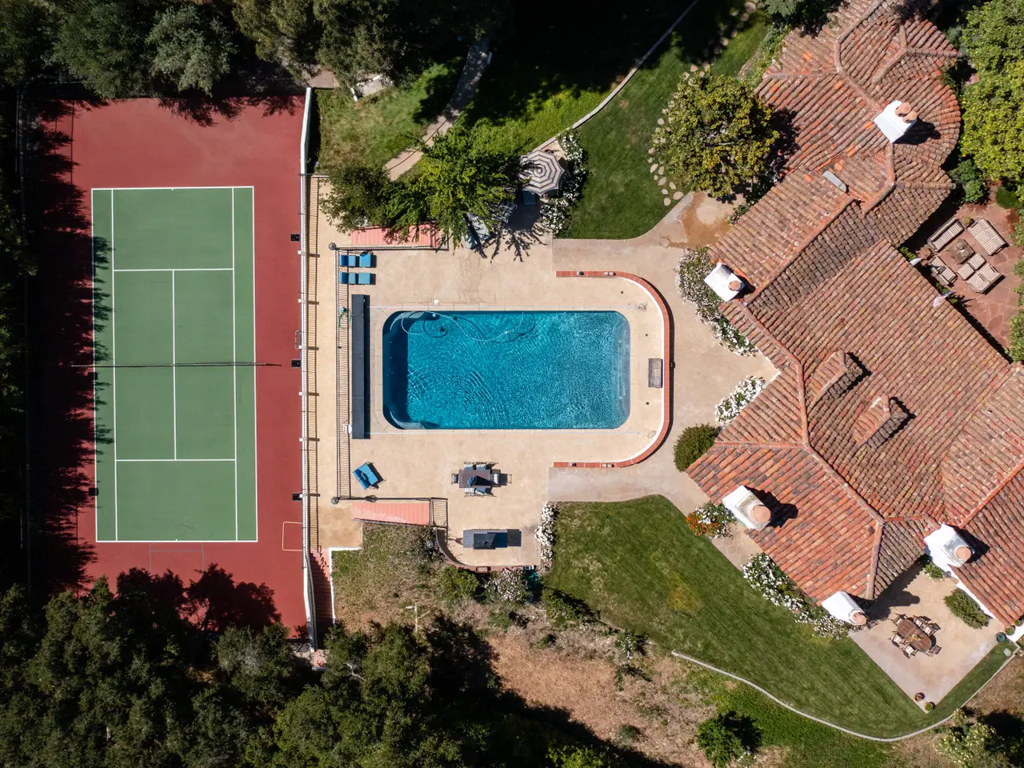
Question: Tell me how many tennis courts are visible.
one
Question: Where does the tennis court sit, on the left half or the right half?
left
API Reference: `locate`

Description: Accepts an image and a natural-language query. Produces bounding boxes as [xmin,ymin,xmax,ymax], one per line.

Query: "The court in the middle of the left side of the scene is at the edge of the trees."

[38,92,319,635]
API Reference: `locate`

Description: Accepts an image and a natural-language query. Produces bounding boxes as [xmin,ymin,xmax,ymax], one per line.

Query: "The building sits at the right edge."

[687,0,1024,629]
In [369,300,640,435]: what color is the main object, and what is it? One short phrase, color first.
blue swimming pool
